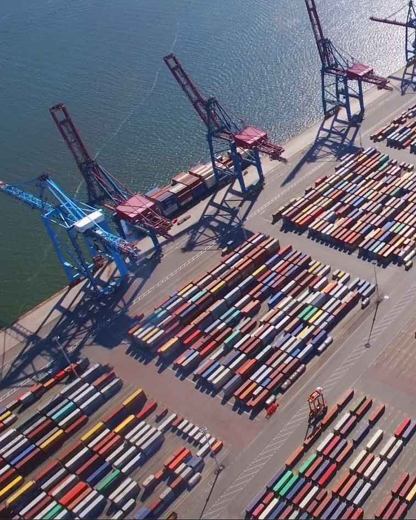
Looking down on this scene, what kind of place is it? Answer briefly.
port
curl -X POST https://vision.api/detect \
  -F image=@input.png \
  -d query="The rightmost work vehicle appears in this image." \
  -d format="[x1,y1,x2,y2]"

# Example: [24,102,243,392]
[306,389,328,422]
